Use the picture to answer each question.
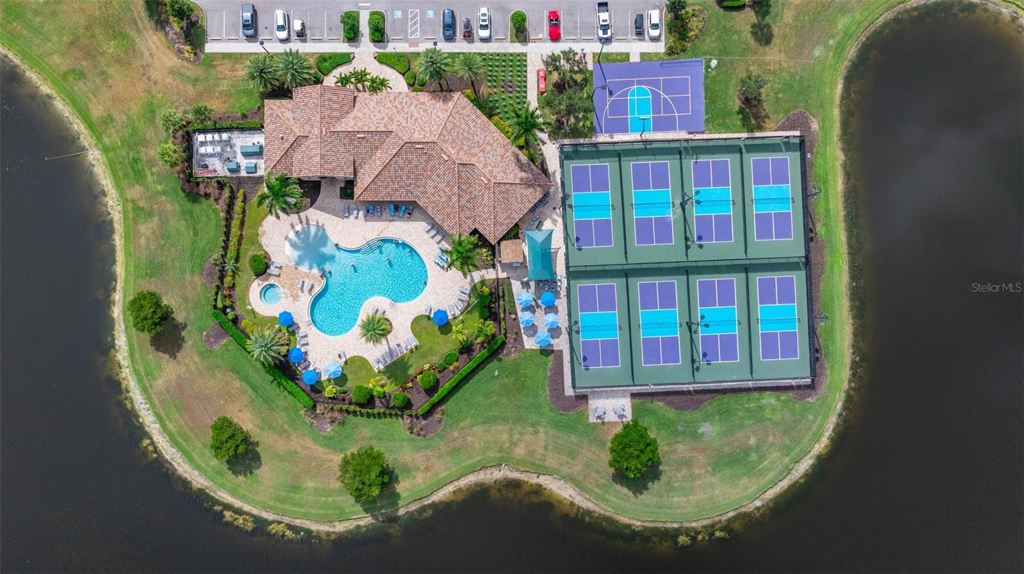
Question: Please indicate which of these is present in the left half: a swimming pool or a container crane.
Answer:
swimming pool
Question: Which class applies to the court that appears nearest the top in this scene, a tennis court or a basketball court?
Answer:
basketball court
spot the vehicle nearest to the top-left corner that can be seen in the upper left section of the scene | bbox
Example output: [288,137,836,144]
[241,5,257,38]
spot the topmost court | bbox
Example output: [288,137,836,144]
[594,58,705,135]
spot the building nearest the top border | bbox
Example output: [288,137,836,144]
[264,84,554,246]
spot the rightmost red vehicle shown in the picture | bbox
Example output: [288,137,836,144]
[547,11,561,40]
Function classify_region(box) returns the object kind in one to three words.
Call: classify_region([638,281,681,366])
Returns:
sports court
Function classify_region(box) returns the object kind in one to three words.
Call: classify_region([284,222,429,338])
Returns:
swimming pool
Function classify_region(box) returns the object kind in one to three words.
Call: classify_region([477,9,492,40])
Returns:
car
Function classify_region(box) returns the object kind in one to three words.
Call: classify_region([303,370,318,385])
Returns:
umbrella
